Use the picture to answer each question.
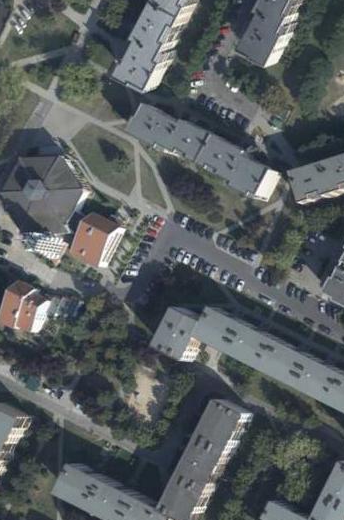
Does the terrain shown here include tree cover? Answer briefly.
Yes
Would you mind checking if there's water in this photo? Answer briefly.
No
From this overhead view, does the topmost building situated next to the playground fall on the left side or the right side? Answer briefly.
right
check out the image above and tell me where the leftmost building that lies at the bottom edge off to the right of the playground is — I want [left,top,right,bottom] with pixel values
[160,398,255,520]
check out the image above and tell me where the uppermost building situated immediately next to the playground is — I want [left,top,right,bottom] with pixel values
[149,306,344,414]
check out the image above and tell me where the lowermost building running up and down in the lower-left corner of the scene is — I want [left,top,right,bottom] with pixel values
[0,399,34,475]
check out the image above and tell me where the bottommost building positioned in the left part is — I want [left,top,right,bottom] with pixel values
[51,461,178,520]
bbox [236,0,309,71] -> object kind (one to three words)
building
